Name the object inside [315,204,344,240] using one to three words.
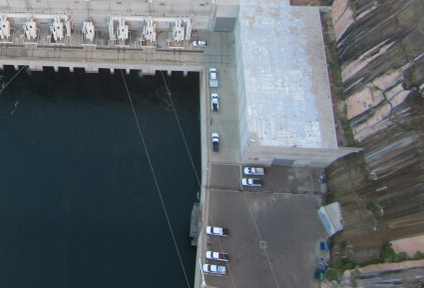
shed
